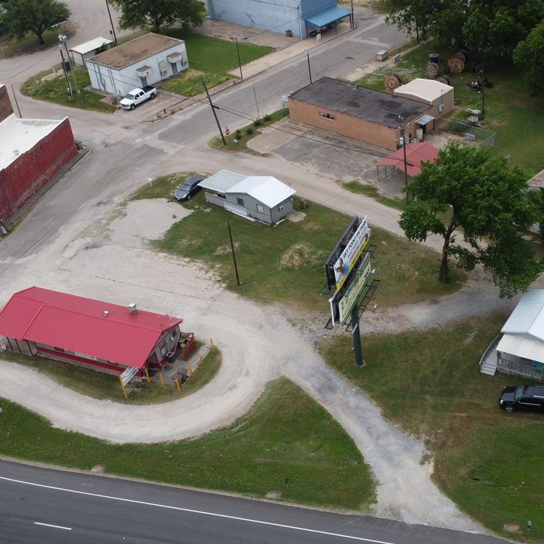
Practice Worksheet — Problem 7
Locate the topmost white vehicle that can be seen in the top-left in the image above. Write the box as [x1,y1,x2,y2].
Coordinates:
[119,86,159,109]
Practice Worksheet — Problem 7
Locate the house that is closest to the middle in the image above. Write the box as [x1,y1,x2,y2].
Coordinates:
[198,170,295,223]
